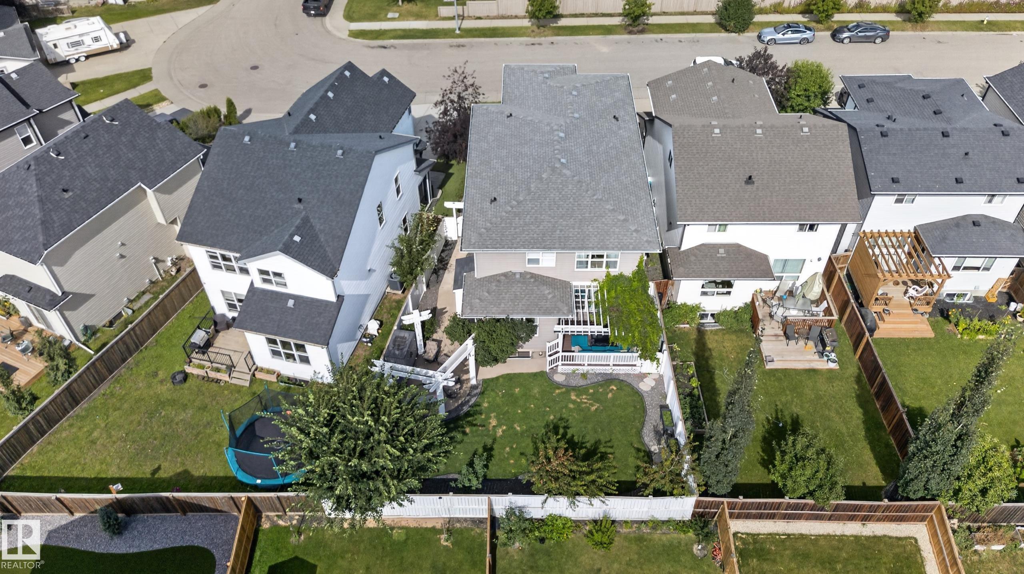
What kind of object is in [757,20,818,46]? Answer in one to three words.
car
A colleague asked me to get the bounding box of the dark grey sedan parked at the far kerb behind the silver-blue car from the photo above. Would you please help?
[829,19,893,45]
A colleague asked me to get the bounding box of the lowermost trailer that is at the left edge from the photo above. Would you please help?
[36,12,137,65]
